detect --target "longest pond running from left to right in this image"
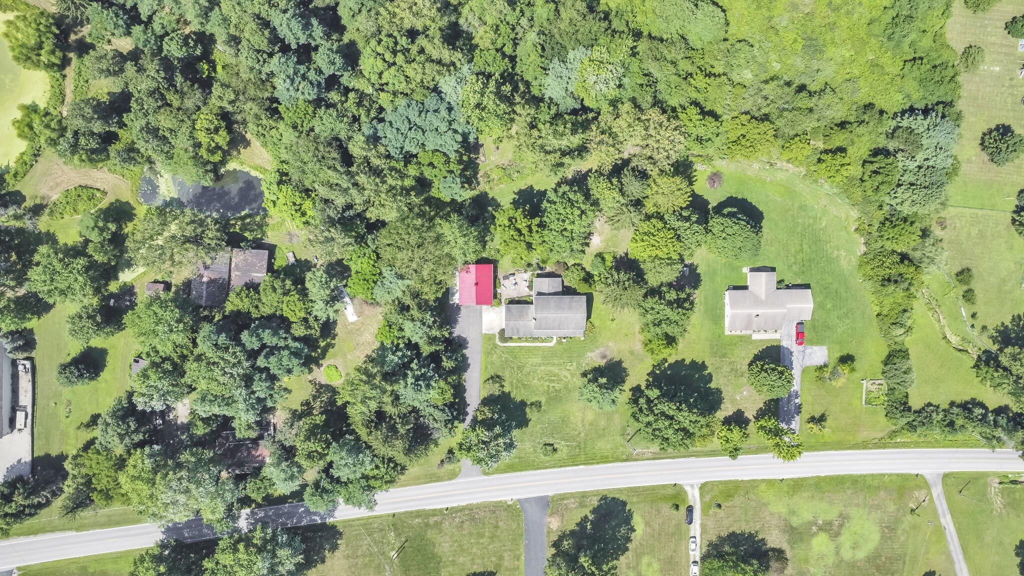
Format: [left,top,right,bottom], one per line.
[139,162,266,226]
